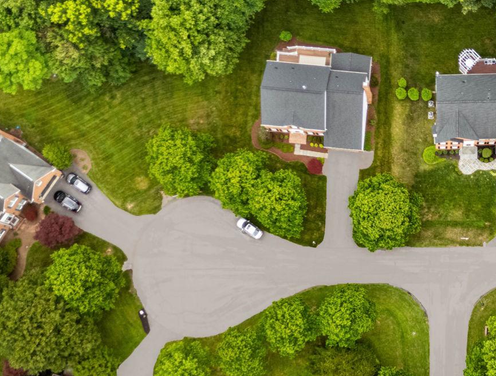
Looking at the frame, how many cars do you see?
3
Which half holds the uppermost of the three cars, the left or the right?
left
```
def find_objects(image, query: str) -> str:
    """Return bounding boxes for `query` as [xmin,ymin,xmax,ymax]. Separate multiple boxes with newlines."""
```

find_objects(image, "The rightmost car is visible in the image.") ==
[235,218,261,240]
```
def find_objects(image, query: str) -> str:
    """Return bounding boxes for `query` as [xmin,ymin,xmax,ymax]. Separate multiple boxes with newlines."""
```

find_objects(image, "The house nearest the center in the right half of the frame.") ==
[258,44,373,152]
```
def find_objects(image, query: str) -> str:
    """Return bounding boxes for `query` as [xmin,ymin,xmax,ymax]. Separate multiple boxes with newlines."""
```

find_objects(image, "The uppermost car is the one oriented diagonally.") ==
[62,171,90,194]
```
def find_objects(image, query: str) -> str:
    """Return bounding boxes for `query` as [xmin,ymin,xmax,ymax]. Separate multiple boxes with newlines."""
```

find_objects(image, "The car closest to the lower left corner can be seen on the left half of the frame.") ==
[52,190,80,212]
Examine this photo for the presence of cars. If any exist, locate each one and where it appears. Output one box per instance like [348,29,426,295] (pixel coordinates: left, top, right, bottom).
[52,190,80,212]
[62,171,90,194]
[235,218,261,240]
